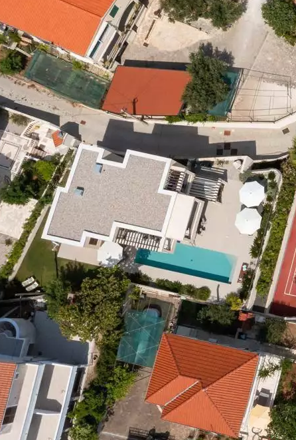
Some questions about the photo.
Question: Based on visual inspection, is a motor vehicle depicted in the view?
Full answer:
No, there's no motor vehicle here.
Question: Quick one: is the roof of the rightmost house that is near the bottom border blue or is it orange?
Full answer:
From above, the roof of the rightmost house that is near the bottom border appears orange.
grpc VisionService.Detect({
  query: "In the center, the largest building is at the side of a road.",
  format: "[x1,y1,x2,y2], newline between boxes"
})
[42,144,230,254]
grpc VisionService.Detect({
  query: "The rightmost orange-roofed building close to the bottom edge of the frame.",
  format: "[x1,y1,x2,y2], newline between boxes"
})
[144,333,264,440]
